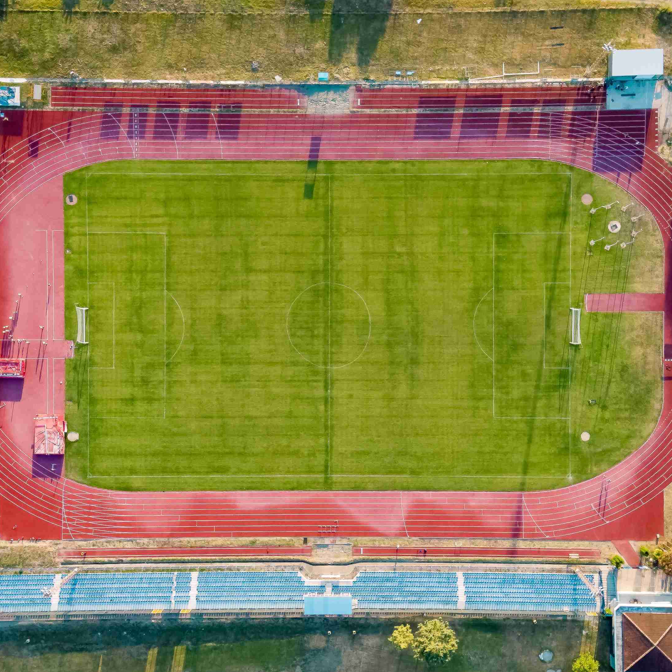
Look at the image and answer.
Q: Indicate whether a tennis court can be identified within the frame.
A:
No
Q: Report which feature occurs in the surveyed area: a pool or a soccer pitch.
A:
soccer pitch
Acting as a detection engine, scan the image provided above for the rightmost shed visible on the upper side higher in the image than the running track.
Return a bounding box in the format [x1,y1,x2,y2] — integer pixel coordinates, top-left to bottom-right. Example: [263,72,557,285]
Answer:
[606,49,664,80]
